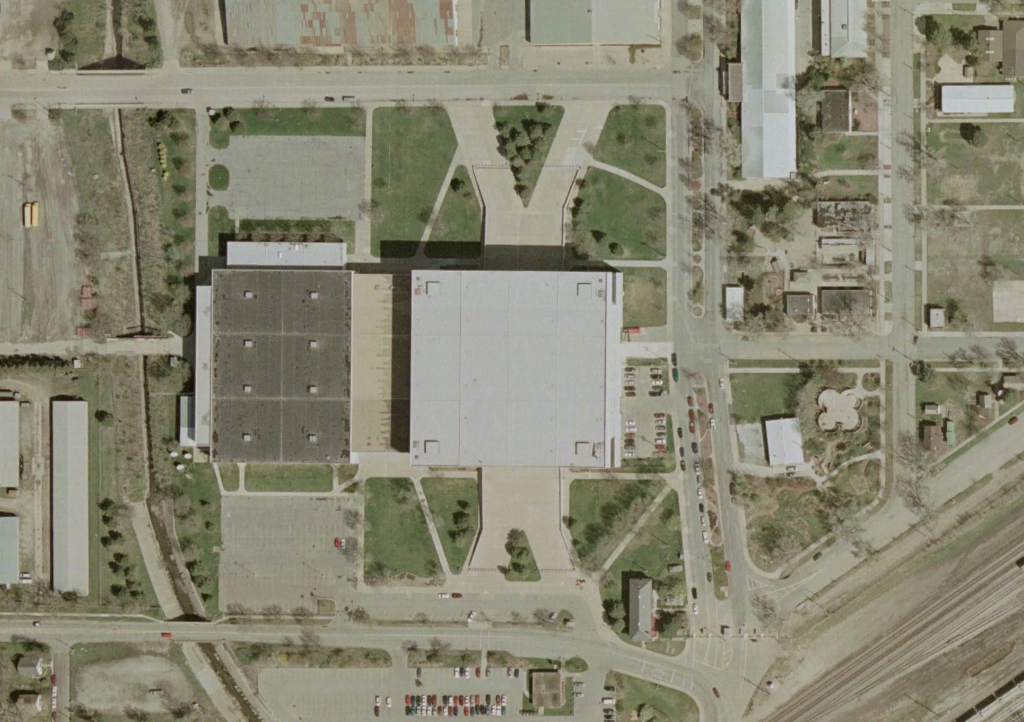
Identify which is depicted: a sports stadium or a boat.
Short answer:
sports stadium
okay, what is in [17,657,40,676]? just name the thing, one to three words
house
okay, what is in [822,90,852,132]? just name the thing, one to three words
building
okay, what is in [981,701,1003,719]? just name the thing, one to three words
rail car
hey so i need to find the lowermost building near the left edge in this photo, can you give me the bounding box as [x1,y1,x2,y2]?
[14,695,40,715]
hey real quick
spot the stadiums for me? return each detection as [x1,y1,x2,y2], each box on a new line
[410,270,621,468]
